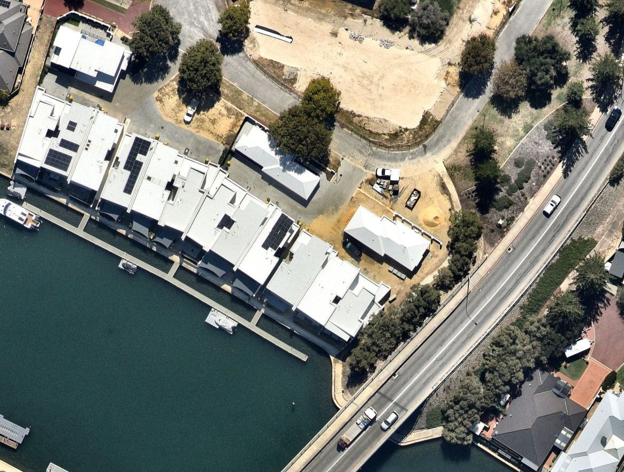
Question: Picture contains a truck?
Yes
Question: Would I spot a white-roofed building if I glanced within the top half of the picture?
Yes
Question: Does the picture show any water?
Yes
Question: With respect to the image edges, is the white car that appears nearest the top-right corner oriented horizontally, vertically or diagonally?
diagonally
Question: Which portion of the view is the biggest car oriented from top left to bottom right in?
center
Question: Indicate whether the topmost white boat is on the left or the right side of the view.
left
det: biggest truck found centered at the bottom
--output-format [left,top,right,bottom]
[337,406,379,451]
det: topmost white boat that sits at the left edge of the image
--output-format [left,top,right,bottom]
[0,200,43,232]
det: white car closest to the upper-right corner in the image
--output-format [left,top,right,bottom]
[541,194,563,218]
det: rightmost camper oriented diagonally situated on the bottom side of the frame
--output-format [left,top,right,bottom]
[567,336,594,361]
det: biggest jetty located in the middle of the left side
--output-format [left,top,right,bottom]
[21,202,308,362]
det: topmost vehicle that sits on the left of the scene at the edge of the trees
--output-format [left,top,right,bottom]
[185,94,205,125]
